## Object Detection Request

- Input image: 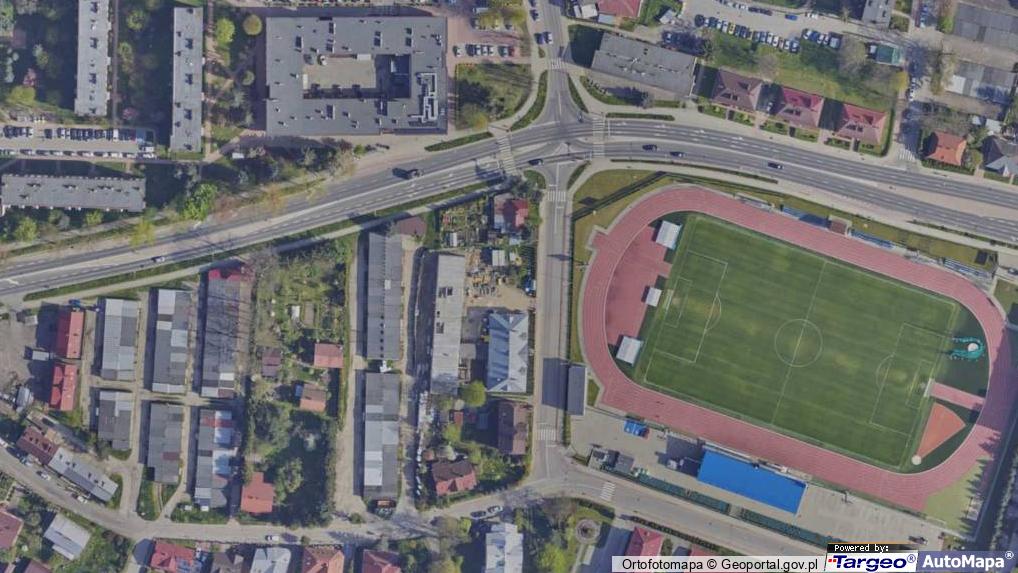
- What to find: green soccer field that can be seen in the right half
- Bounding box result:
[635,217,958,469]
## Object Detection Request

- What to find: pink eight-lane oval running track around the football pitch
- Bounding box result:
[577,188,1018,508]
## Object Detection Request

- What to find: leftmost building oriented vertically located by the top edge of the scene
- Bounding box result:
[75,0,113,117]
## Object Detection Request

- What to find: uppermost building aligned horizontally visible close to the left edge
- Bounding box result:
[1,173,148,212]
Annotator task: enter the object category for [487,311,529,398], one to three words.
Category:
house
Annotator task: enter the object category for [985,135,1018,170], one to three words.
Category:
house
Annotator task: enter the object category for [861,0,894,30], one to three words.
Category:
building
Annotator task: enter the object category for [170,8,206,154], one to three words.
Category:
building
